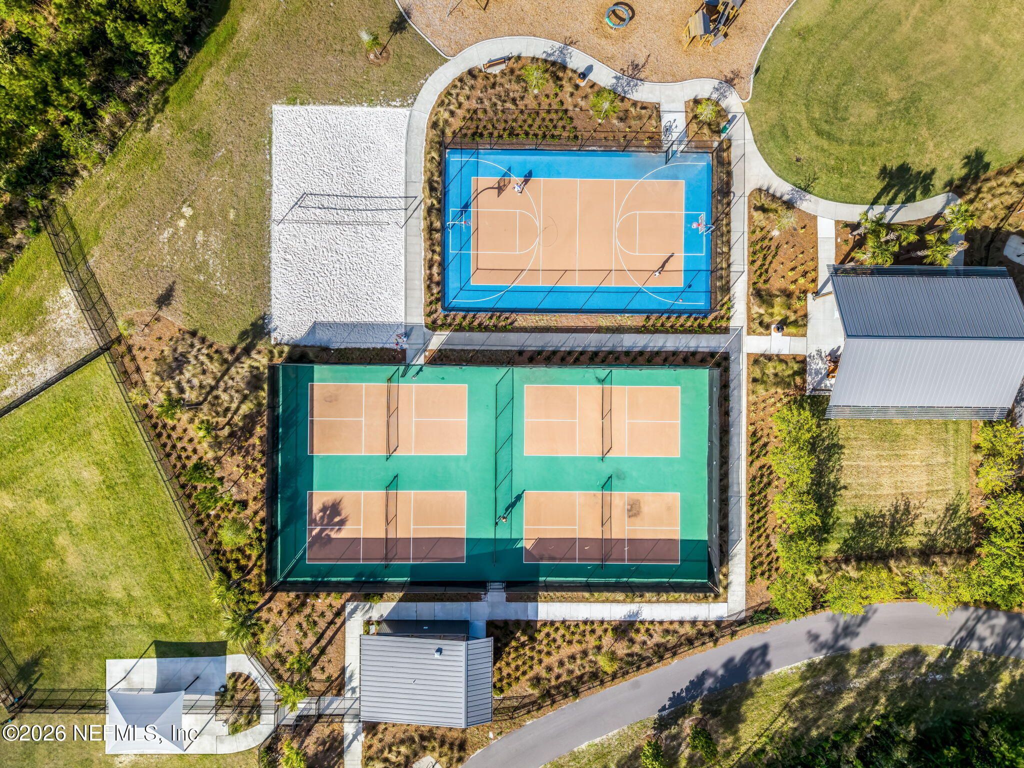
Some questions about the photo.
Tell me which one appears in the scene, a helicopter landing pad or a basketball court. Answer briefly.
basketball court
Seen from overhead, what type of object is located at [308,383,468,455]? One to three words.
sports court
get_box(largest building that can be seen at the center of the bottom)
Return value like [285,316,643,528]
[359,612,494,728]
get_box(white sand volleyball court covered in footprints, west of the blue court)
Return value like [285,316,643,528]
[270,104,413,349]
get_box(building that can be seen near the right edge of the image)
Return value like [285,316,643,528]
[814,262,1024,425]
